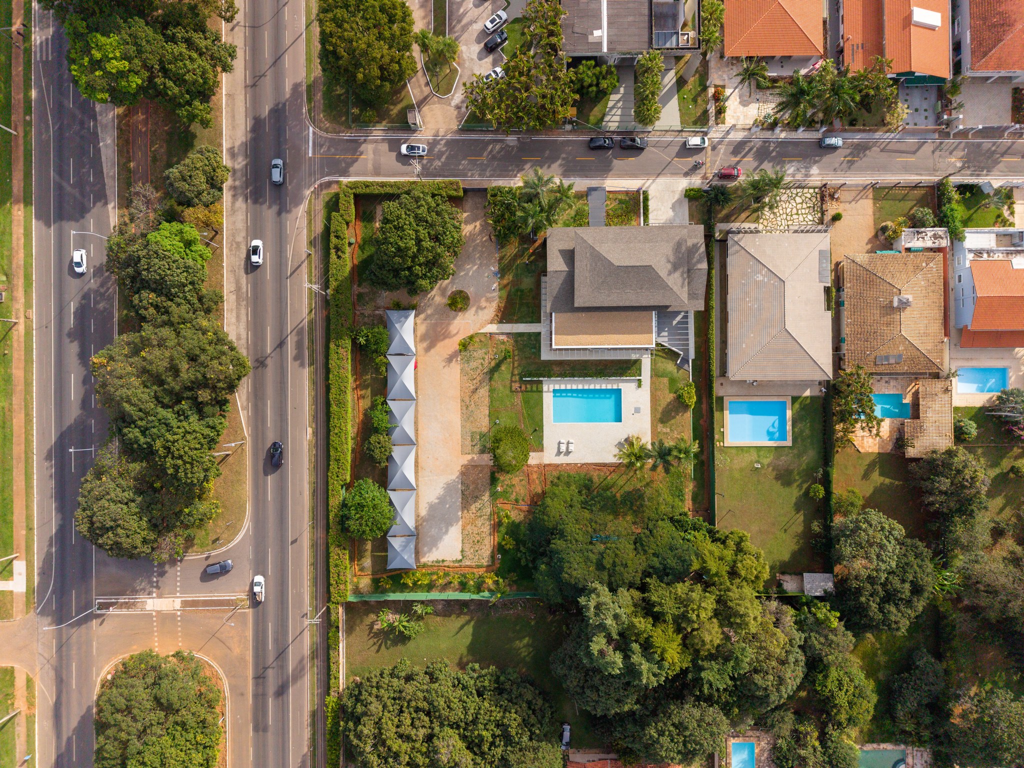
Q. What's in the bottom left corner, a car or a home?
car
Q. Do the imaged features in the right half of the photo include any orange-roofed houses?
Yes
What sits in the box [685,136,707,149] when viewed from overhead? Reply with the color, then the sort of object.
white vehicle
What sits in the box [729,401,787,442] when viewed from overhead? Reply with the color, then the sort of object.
blue swimming pool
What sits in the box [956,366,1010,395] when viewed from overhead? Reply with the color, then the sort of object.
blue swimming pool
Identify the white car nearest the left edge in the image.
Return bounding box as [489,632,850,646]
[73,249,87,272]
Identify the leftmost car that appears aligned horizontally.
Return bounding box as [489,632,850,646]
[205,559,232,575]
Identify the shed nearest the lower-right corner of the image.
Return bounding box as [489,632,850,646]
[800,572,834,596]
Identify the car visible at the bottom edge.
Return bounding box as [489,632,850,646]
[560,724,572,749]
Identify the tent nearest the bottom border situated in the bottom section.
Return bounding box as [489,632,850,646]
[386,535,418,569]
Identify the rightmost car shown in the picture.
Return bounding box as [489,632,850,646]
[820,136,842,149]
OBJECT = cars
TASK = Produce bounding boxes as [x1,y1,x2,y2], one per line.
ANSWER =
[251,242,264,264]
[483,11,509,32]
[483,31,508,52]
[685,136,707,149]
[205,559,232,575]
[719,166,741,178]
[820,136,842,149]
[560,724,572,749]
[270,441,284,465]
[621,136,647,150]
[481,66,504,86]
[590,136,614,149]
[402,143,427,156]
[73,249,87,272]
[271,160,284,184]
